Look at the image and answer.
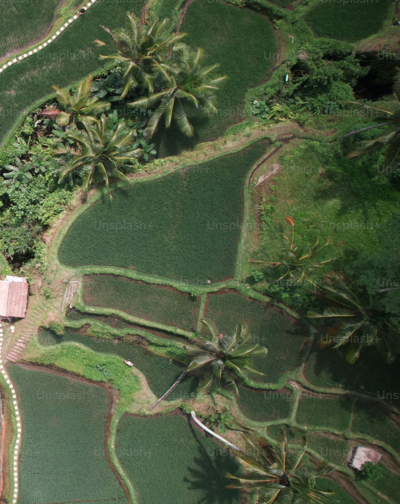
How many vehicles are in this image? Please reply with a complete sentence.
There are no vehicles in this view.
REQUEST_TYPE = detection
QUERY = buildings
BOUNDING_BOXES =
[0,278,29,320]
[343,443,382,472]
